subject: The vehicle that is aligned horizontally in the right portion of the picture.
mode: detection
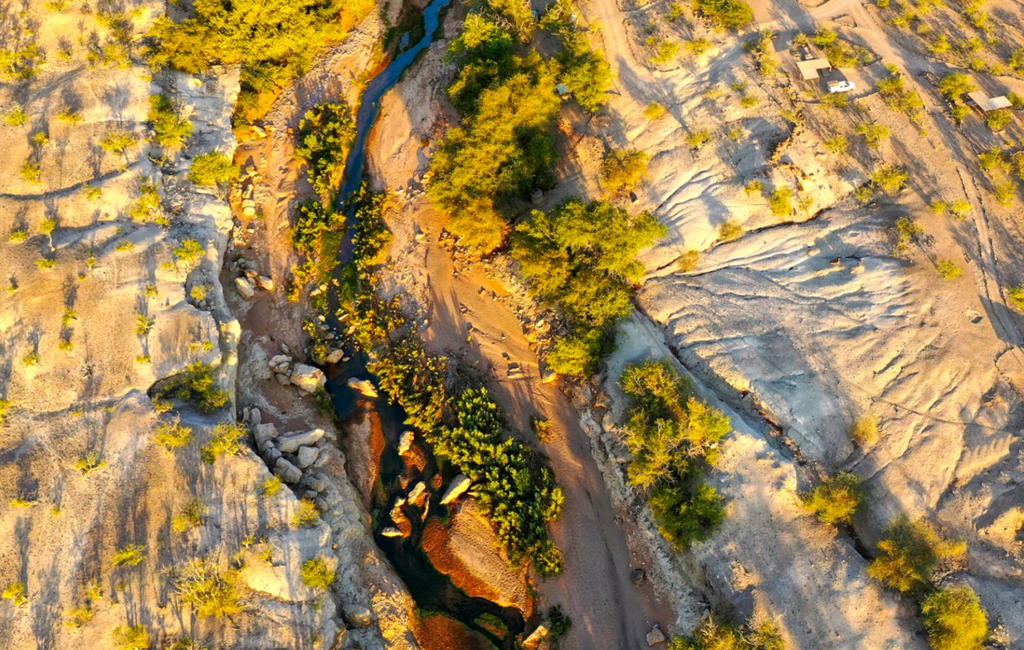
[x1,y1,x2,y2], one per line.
[826,77,860,93]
